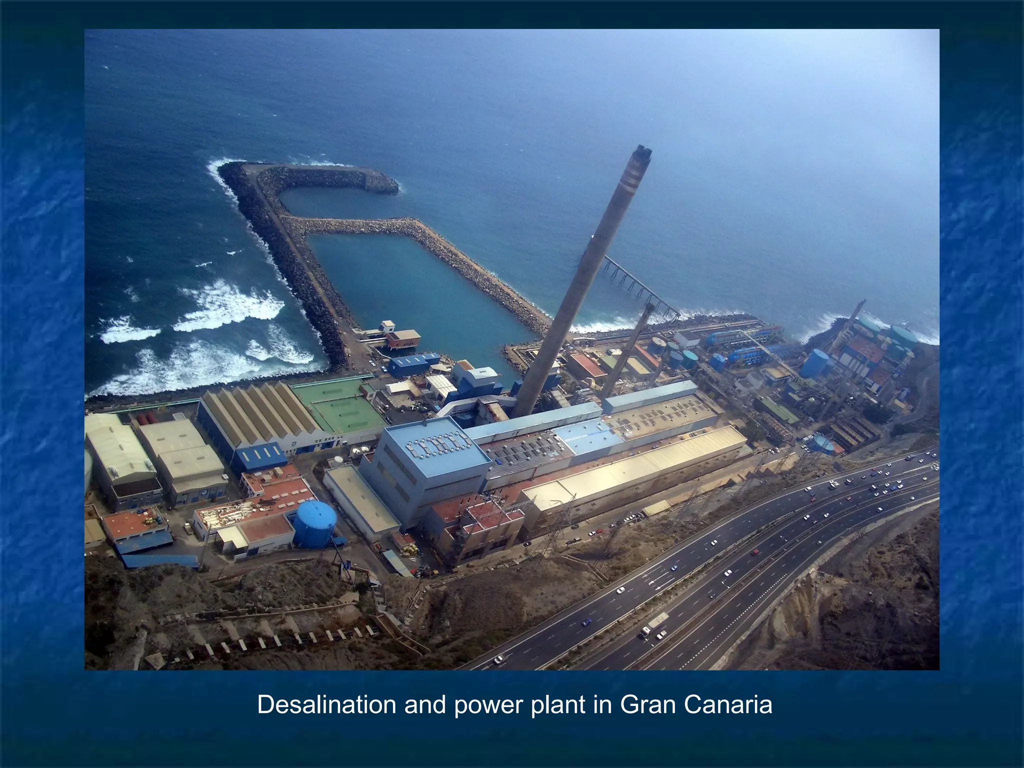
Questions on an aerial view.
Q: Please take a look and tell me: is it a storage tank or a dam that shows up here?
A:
storage tank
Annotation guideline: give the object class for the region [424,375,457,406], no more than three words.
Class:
building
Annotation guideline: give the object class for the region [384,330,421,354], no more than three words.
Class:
house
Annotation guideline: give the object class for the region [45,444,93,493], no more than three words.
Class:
storage tank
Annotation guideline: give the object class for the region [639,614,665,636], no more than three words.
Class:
truck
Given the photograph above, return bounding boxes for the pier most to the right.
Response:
[605,256,680,319]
